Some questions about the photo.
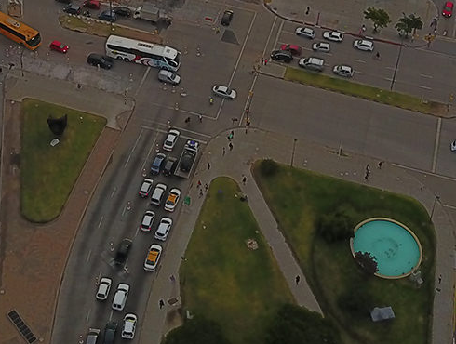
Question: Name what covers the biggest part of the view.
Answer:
paved ground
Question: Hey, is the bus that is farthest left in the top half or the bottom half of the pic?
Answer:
top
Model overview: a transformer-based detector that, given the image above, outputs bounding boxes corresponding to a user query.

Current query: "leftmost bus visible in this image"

[0,6,40,48]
